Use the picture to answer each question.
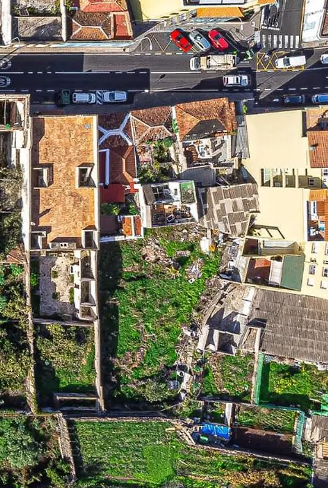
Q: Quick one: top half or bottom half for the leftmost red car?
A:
top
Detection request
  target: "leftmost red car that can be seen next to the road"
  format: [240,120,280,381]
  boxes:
[168,29,191,54]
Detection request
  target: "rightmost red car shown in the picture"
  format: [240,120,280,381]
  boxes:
[207,28,230,52]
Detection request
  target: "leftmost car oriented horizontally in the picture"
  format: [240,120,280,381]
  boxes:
[71,92,96,104]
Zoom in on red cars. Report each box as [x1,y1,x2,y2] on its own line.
[207,28,230,52]
[168,29,191,54]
